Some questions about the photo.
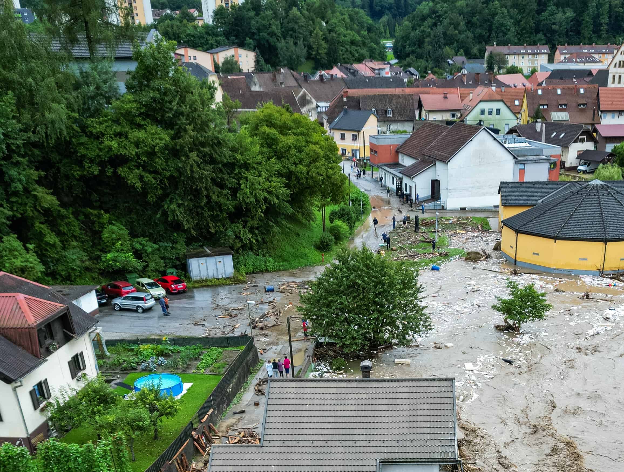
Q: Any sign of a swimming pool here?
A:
Yes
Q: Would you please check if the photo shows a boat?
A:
No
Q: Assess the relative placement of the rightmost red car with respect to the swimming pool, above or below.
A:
above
